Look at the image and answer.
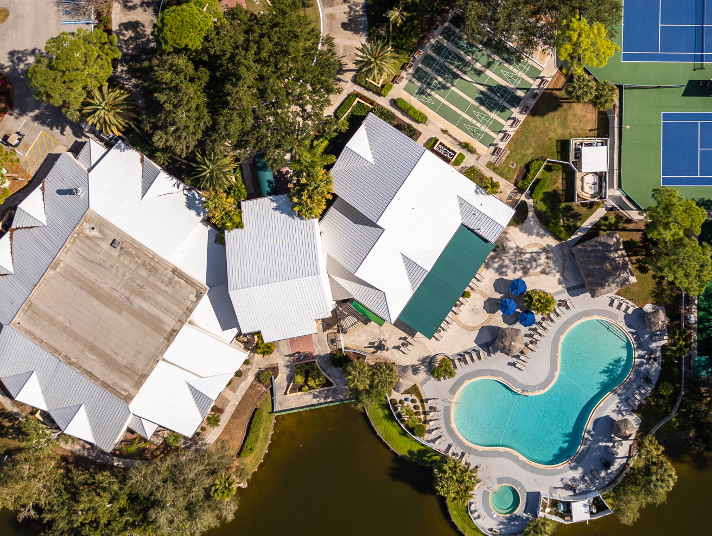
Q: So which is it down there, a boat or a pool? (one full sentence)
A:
This aerial view contains a pool.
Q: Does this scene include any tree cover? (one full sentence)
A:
Yes, some tree cover is visible.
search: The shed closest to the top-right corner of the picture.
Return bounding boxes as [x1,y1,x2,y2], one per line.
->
[581,146,609,171]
